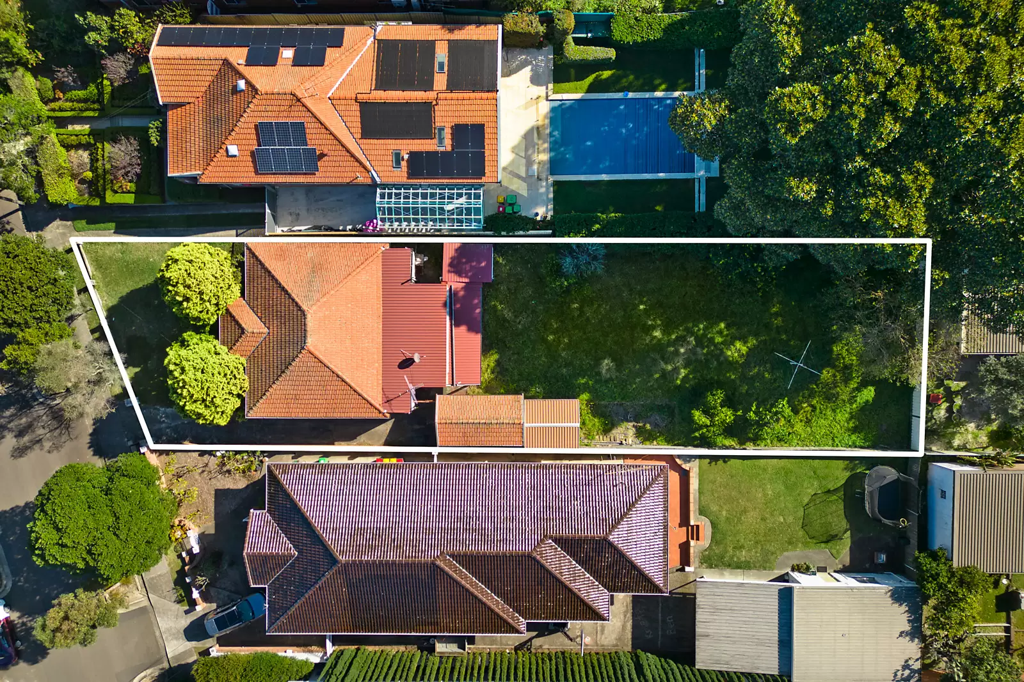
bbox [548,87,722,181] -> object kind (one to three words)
swimming pool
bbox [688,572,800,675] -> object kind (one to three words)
building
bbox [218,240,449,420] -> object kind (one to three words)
house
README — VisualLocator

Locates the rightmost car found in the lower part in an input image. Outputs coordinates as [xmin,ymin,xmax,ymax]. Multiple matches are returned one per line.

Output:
[197,592,265,643]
